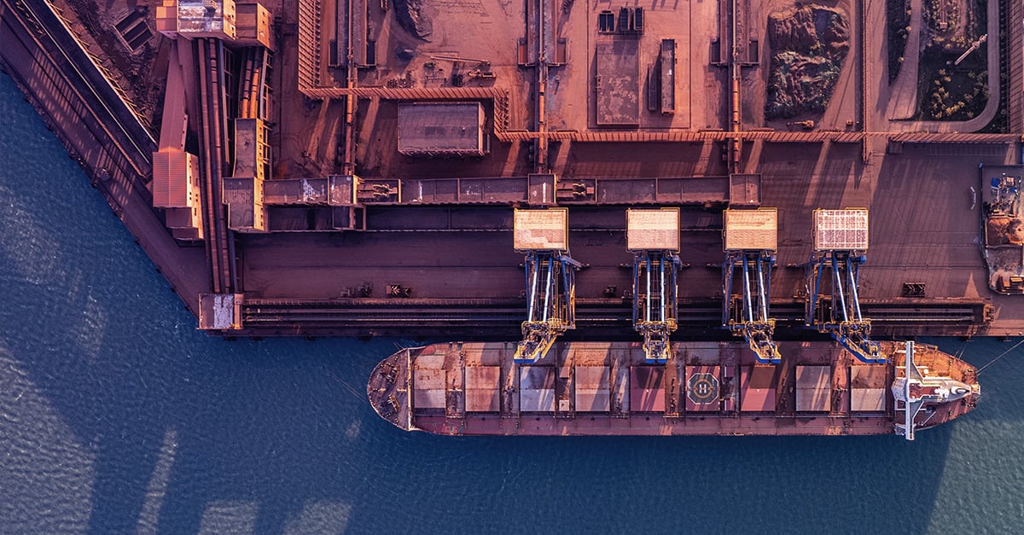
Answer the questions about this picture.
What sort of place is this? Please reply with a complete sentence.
The picture captures a port.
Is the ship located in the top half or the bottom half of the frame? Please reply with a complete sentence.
You can find the ship in the bottom half.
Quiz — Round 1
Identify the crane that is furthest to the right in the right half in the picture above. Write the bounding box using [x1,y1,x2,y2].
[789,206,883,361]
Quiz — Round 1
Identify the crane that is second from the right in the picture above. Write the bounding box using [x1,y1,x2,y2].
[706,206,780,361]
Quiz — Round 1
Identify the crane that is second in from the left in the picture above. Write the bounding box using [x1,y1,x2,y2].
[618,206,691,361]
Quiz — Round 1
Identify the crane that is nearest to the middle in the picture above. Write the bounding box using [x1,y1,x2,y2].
[511,206,589,361]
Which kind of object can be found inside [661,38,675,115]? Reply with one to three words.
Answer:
shed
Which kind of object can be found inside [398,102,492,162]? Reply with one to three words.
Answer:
building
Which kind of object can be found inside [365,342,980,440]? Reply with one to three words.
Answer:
ship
